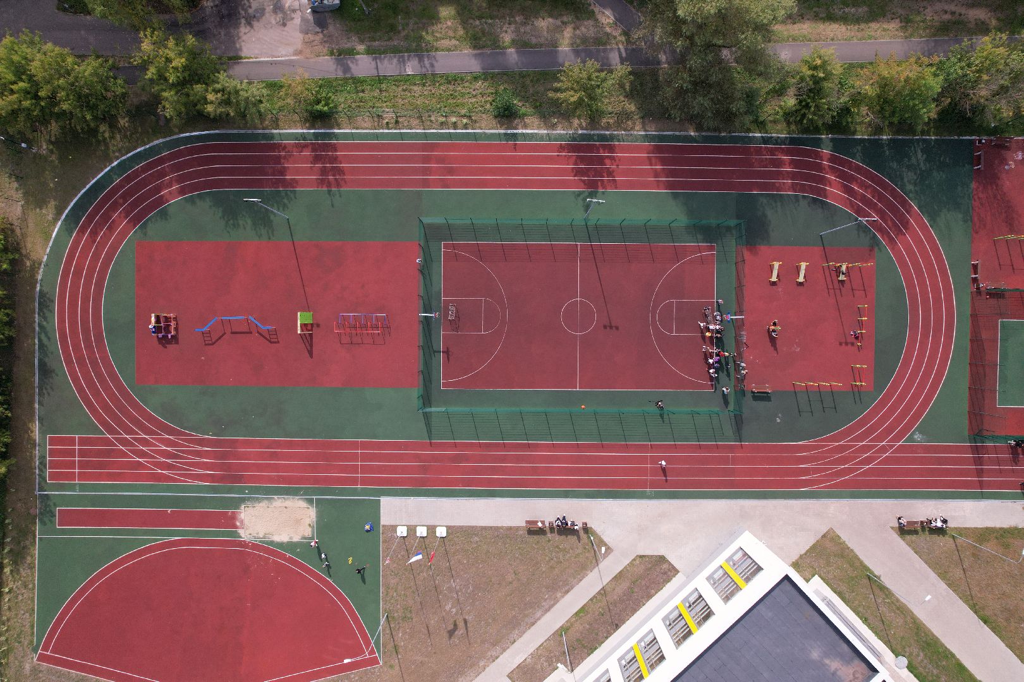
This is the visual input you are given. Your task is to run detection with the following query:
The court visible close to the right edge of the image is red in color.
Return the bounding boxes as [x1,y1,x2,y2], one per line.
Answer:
[969,139,1024,436]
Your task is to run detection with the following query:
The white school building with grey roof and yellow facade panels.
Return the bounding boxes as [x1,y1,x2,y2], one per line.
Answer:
[582,532,896,682]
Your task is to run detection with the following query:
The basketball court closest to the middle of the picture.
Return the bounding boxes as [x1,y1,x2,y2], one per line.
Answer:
[441,242,716,391]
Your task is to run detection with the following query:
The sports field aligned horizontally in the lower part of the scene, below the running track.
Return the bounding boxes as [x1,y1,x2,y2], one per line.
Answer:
[35,493,380,660]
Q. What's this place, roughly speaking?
sports ground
